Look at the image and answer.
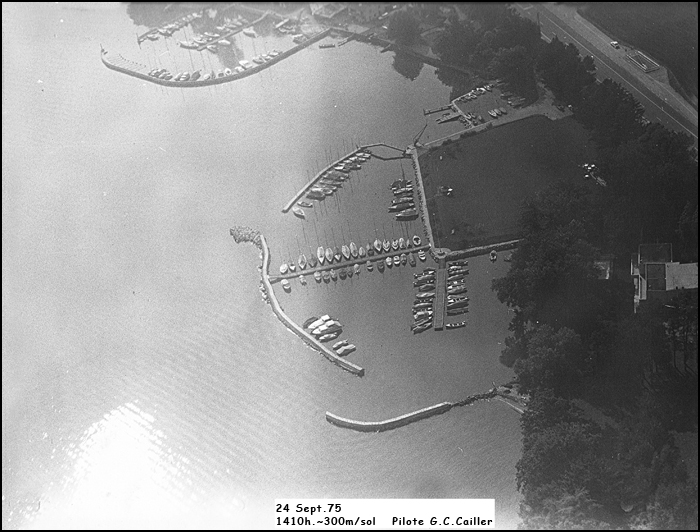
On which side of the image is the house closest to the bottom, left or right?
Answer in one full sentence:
It is on the right.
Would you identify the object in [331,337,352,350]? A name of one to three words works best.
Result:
boat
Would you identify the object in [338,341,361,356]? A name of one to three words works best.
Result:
boat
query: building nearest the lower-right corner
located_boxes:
[631,243,700,308]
